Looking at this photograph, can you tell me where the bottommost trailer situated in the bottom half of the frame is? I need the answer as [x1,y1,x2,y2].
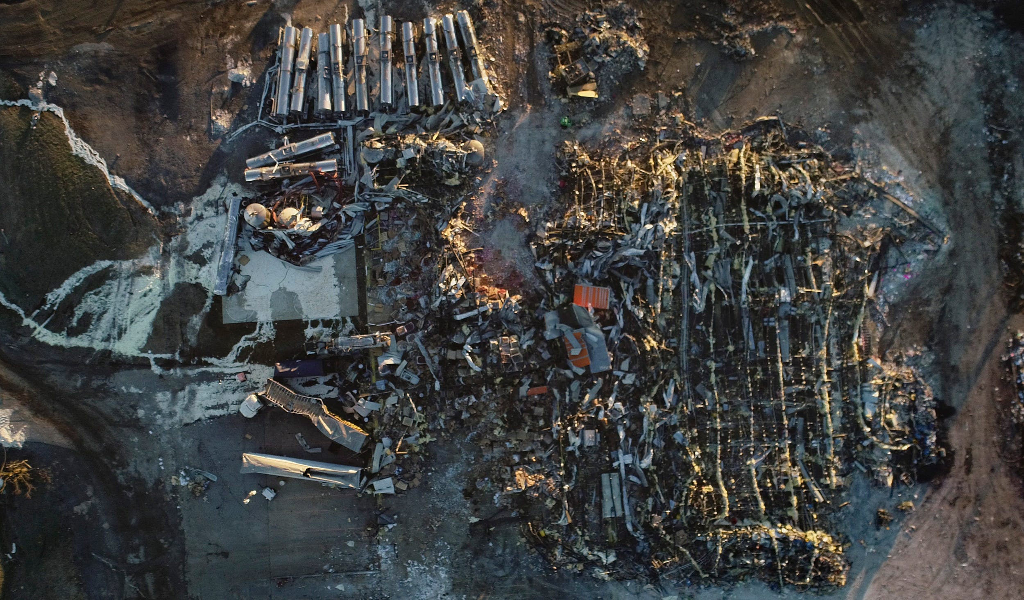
[242,448,366,489]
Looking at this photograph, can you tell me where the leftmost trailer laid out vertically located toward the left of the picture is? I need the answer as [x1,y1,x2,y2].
[213,197,244,296]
